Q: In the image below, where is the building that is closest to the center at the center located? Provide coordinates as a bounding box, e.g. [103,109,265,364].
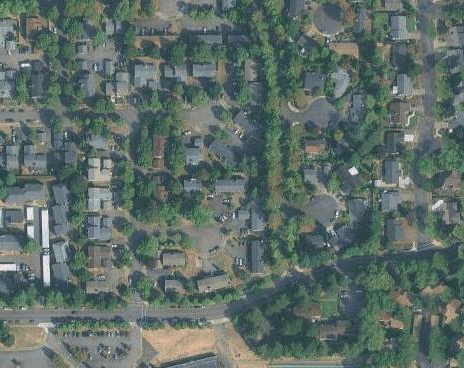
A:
[214,179,247,192]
